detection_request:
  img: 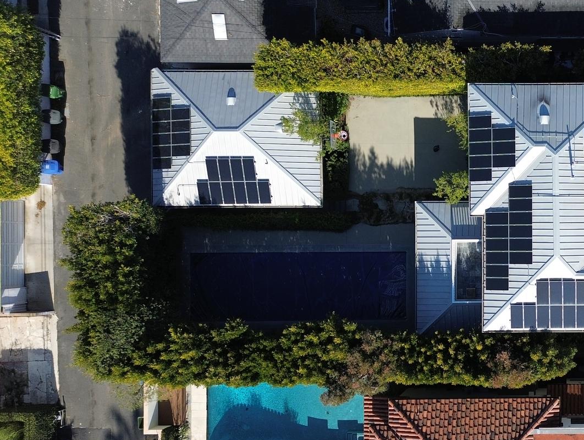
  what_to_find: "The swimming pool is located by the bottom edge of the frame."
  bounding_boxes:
[207,373,385,440]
